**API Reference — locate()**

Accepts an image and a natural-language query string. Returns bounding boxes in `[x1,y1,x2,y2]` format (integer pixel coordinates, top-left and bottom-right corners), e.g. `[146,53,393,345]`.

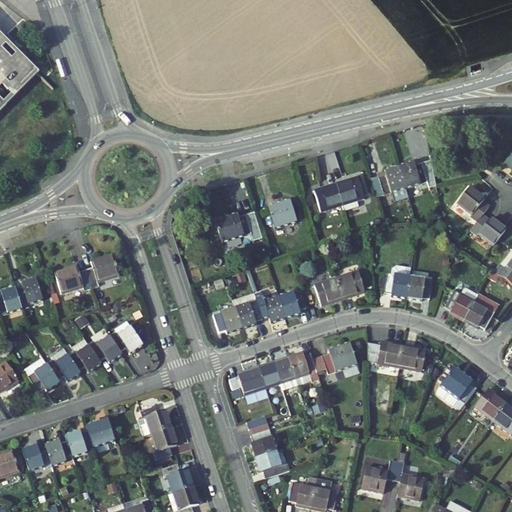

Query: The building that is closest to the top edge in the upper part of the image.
[0,30,38,109]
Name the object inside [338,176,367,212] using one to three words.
house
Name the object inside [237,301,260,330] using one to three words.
house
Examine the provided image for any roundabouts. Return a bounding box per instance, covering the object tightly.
[90,140,165,214]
